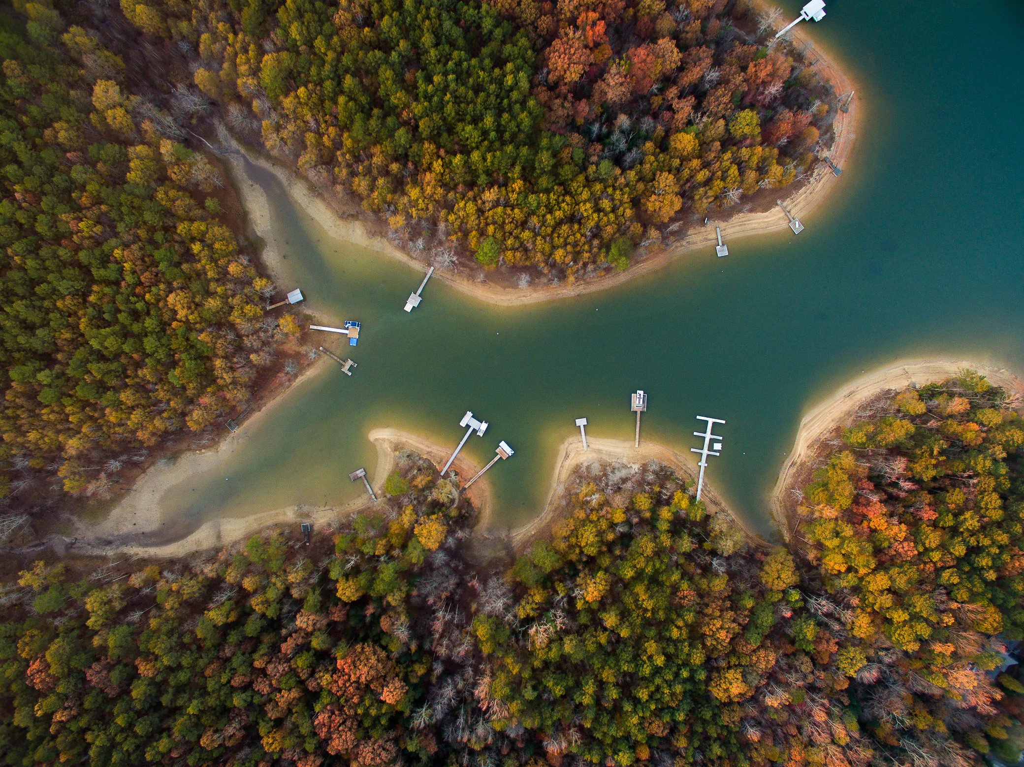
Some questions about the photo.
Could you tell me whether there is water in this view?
Yes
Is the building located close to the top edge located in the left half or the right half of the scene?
right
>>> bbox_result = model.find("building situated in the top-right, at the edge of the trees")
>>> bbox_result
[775,0,827,38]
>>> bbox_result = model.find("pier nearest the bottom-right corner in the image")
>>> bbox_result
[690,416,725,504]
